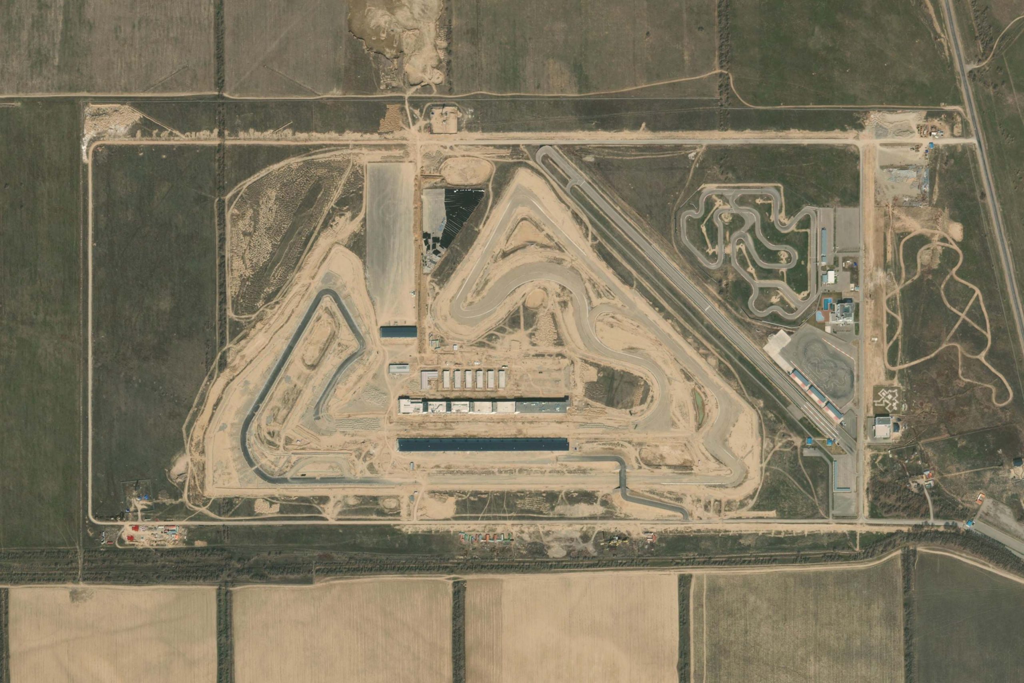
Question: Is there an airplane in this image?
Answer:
No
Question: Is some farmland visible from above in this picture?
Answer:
Yes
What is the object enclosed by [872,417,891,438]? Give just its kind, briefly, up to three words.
building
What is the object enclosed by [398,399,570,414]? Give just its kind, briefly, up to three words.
building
